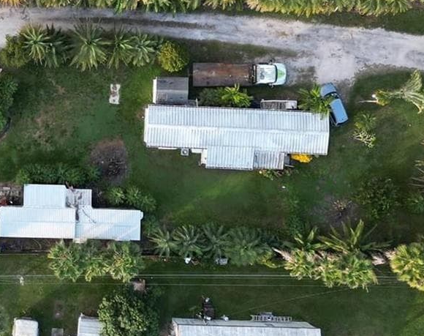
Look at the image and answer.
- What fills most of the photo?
grass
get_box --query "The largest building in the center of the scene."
[143,104,331,168]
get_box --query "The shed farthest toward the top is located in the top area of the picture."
[152,78,190,103]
